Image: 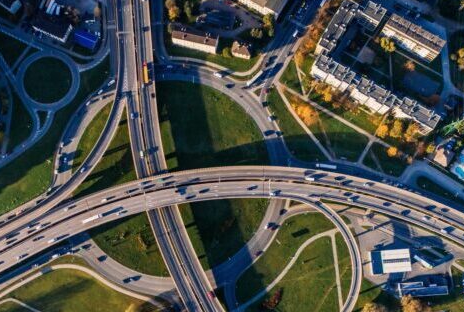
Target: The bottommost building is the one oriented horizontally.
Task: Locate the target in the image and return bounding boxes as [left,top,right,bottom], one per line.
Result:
[396,281,448,297]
